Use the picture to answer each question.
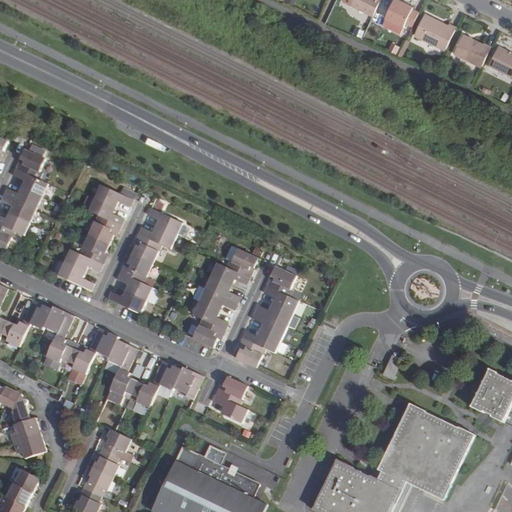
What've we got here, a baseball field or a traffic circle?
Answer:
traffic circle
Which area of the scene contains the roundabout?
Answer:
right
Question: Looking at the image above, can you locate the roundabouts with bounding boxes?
[390,254,462,326]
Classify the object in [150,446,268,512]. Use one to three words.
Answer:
building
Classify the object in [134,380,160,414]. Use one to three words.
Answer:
house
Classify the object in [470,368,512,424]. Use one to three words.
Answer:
building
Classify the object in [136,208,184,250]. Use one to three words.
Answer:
house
